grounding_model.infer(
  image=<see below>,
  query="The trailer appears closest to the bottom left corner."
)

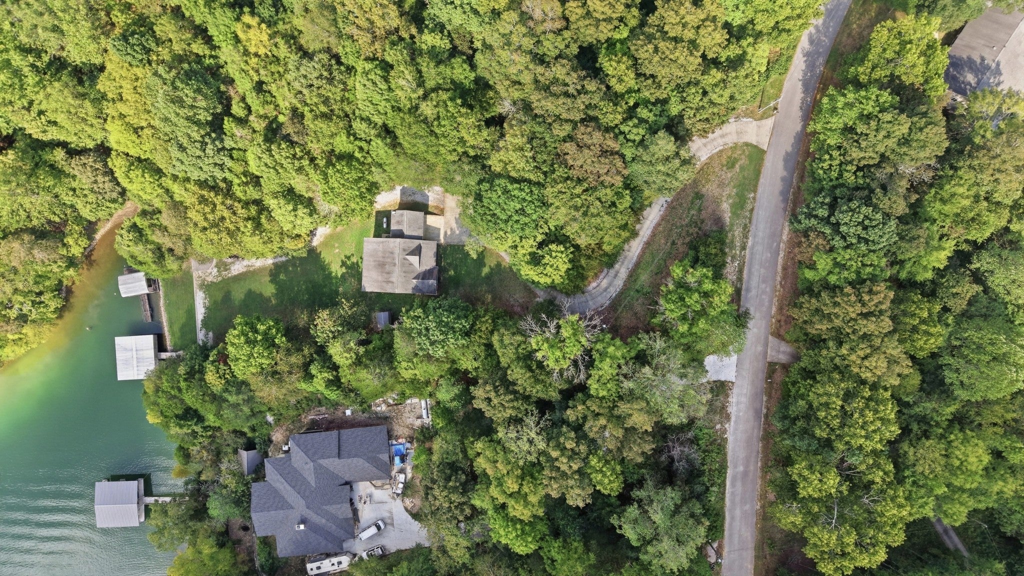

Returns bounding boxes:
[305,551,357,576]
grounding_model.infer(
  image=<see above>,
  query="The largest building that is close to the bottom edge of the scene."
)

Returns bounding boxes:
[248,425,393,557]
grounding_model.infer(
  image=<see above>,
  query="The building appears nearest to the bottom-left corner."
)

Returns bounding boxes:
[95,477,146,527]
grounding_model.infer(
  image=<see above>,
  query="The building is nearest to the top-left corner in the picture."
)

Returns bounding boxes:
[117,266,162,298]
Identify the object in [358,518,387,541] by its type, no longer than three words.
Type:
vehicle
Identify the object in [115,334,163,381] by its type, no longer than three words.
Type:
building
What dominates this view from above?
trees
